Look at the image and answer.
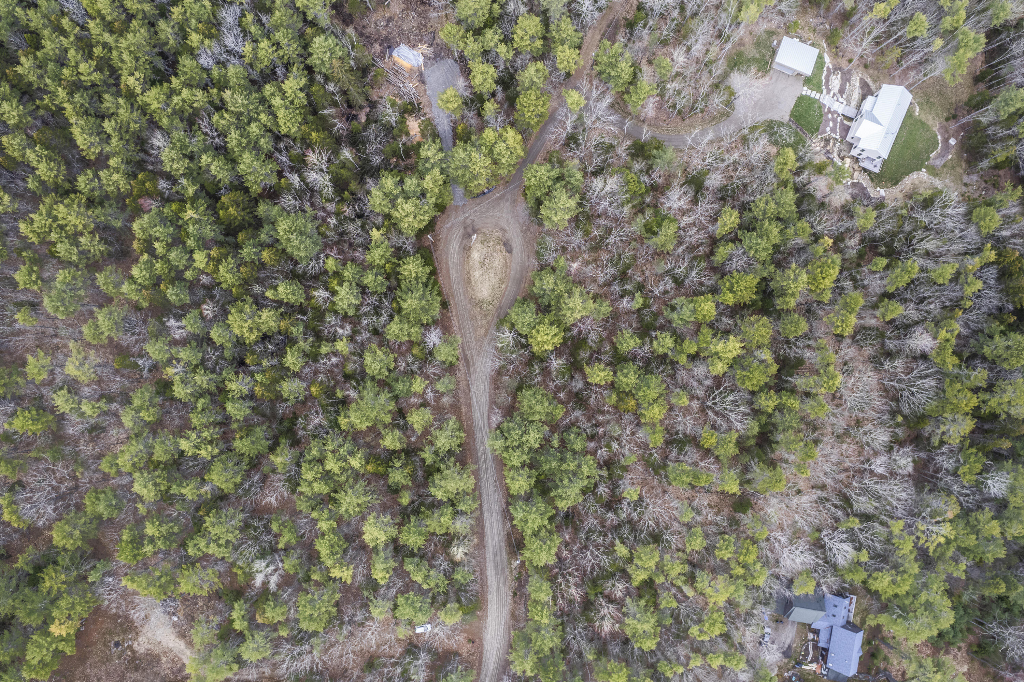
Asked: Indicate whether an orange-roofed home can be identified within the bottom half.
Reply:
No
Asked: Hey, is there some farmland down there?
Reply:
No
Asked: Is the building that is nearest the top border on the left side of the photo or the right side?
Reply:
right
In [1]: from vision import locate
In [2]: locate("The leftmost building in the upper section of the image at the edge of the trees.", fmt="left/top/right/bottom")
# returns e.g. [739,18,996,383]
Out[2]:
[770,36,819,77]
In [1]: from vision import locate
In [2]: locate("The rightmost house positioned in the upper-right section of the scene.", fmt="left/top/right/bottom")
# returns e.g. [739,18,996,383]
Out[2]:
[845,84,913,172]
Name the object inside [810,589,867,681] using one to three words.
house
